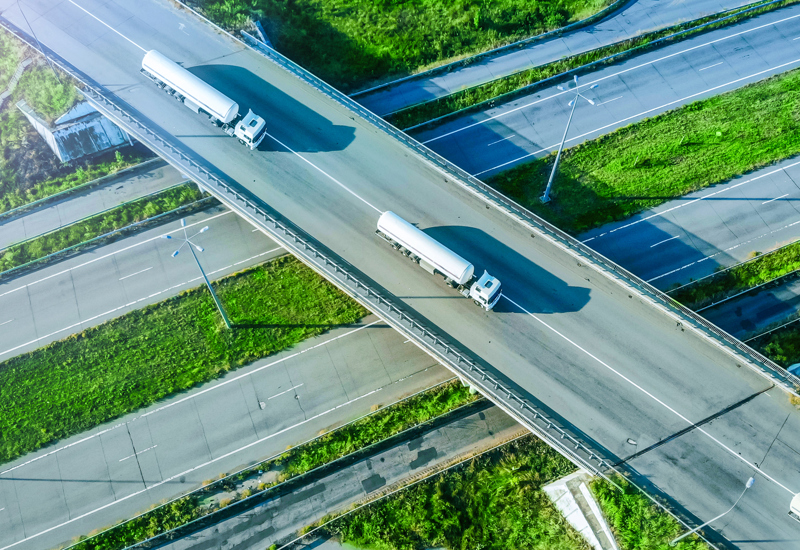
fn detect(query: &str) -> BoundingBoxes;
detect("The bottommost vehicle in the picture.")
[780,486,800,519]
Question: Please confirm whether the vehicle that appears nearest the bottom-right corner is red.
No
